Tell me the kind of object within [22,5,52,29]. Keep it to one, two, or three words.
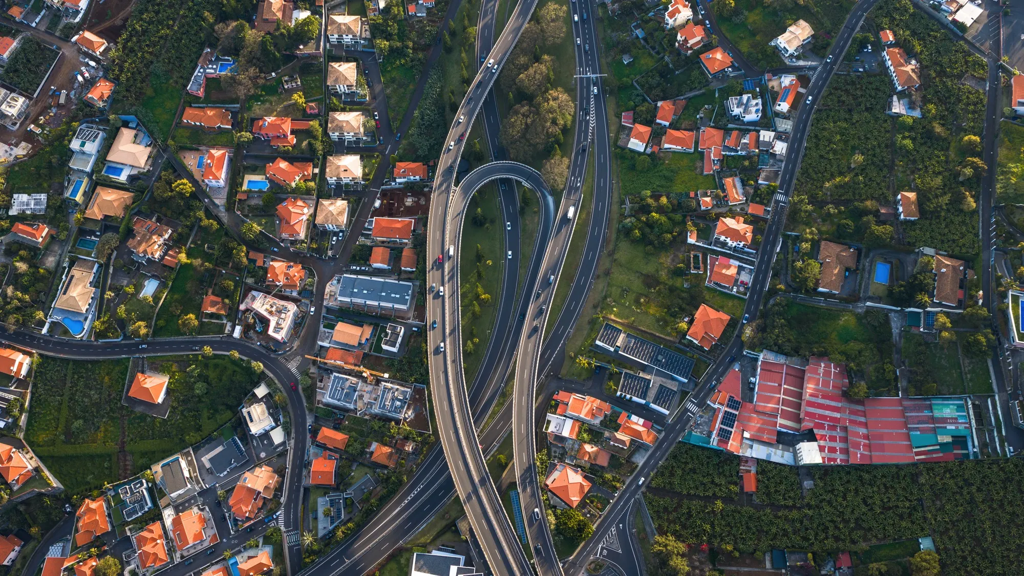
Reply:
shed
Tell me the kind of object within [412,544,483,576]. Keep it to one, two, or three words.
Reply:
building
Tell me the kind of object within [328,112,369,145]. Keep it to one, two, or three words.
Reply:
house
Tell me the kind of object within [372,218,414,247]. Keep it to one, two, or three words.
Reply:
house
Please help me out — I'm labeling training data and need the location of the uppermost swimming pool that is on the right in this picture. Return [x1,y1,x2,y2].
[874,261,892,285]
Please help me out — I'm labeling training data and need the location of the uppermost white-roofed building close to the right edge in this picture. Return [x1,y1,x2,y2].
[929,0,983,29]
